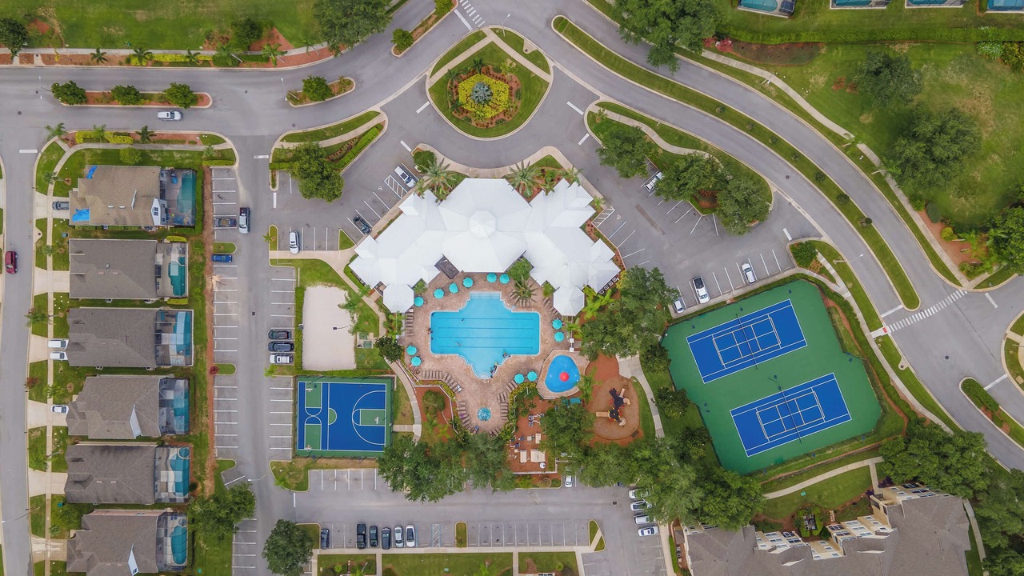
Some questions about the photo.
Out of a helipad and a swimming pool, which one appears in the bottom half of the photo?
swimming pool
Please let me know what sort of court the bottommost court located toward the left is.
basketball court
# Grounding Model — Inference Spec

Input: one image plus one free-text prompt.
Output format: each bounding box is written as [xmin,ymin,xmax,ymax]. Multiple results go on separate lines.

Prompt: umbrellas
[554,332,564,342]
[434,288,444,298]
[527,371,537,381]
[463,277,473,288]
[407,345,417,355]
[552,319,562,330]
[499,273,510,284]
[514,373,524,384]
[411,356,422,366]
[414,297,424,307]
[487,273,497,283]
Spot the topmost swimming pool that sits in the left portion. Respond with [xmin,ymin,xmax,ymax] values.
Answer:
[175,170,194,214]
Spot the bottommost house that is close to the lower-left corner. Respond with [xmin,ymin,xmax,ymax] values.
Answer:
[66,510,168,576]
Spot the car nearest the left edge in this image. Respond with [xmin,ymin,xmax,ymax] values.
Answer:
[5,250,19,272]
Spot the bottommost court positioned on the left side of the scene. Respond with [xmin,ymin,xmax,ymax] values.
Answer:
[296,378,391,459]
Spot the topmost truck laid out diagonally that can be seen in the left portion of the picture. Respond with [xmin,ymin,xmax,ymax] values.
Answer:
[393,164,417,189]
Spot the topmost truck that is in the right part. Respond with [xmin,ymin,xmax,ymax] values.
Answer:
[643,170,665,192]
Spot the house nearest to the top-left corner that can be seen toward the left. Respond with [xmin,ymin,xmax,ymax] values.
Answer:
[69,165,166,226]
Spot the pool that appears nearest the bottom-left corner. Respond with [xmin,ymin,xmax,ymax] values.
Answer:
[171,518,187,565]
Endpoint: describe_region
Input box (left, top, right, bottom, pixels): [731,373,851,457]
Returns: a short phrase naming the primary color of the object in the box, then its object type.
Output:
blue tennis court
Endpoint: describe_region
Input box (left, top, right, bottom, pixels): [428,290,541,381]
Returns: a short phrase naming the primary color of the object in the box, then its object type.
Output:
blue swimming pool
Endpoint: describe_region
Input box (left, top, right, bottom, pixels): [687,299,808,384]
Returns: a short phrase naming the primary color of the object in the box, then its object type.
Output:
blue tennis court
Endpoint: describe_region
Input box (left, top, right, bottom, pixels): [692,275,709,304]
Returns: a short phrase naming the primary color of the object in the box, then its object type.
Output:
white vehicle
